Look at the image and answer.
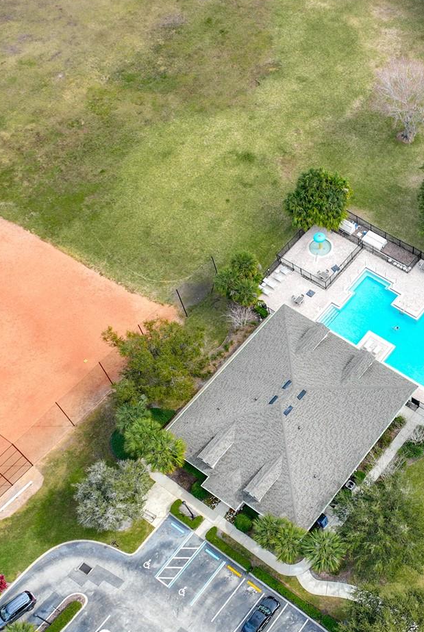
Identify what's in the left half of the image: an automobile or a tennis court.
automobile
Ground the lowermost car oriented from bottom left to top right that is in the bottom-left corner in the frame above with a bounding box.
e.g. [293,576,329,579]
[0,587,35,630]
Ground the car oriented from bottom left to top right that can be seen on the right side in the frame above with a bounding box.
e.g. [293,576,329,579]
[239,595,279,632]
